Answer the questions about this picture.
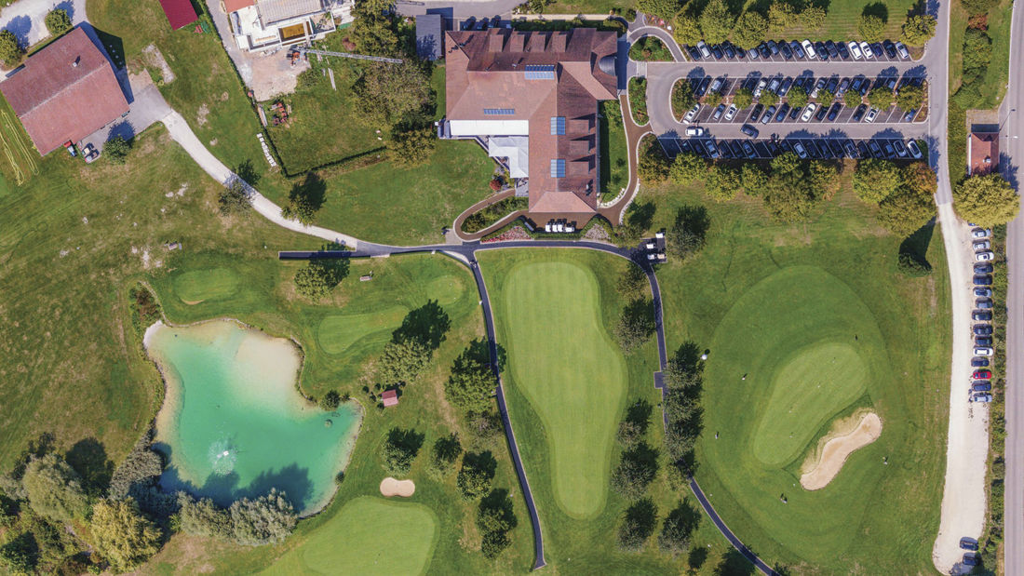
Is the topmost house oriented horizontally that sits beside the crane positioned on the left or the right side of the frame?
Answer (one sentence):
It is on the left.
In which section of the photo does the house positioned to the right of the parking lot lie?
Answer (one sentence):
Look in the top right portion of the view to spot the house positioned to the right of the parking lot.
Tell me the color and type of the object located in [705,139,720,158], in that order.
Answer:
blue car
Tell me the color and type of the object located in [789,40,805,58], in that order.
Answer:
blue car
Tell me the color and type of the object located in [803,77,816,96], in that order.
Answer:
black vehicle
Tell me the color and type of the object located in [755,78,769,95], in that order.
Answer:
white car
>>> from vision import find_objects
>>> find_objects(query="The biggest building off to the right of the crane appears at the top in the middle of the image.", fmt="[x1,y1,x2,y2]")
[445,28,616,212]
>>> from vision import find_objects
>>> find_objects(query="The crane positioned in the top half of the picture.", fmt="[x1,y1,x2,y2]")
[289,45,403,68]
